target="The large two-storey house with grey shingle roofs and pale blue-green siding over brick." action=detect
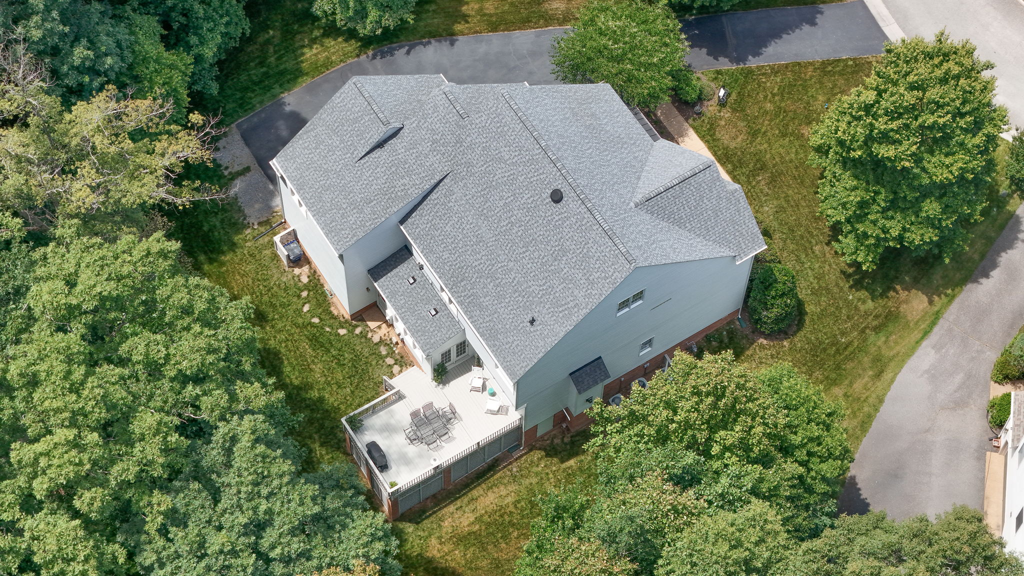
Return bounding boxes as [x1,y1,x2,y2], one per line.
[271,74,768,450]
